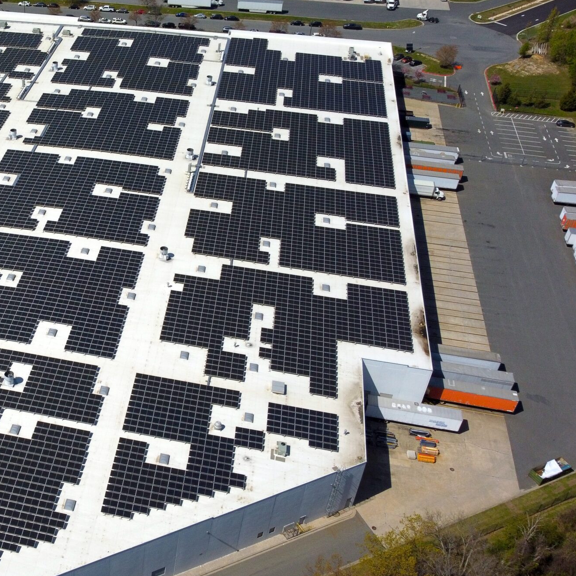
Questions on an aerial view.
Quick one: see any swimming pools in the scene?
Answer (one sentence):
No, there appears to be no swimming pool in this shot.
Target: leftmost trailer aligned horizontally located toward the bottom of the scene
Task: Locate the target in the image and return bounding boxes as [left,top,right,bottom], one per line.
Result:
[365,395,463,431]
